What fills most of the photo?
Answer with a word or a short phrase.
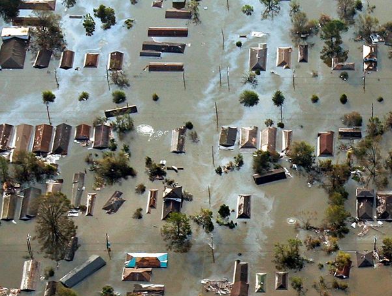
water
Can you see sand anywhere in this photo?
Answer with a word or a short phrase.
No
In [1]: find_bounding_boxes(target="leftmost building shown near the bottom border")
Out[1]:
[20,259,39,291]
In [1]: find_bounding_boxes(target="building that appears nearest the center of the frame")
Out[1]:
[172,126,187,153]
